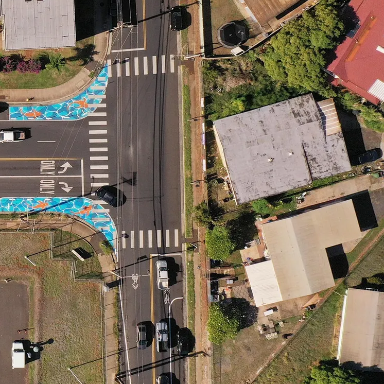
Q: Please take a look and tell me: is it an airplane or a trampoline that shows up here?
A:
trampoline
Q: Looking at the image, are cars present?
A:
Yes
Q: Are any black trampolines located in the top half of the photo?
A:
Yes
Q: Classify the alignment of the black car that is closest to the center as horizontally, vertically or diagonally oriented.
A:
diagonally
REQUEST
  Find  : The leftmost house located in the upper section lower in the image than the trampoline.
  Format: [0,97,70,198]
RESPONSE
[207,94,351,206]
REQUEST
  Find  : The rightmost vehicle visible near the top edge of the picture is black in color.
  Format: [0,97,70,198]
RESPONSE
[169,6,181,31]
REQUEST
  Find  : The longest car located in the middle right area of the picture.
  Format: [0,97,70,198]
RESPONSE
[353,147,382,164]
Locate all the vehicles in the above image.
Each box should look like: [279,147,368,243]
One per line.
[135,322,148,348]
[176,325,189,355]
[154,259,169,290]
[12,341,26,371]
[93,185,118,206]
[154,320,169,352]
[353,147,382,164]
[0,130,24,142]
[169,6,181,31]
[155,374,169,384]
